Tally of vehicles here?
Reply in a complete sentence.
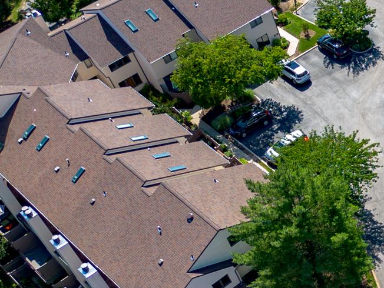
In total, 4 vehicles can be seen.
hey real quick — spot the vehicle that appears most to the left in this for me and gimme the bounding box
[225,105,273,139]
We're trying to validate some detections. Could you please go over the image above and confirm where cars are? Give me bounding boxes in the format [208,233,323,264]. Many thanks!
[263,129,296,159]
[276,58,313,83]
[317,34,353,58]
[225,105,273,139]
